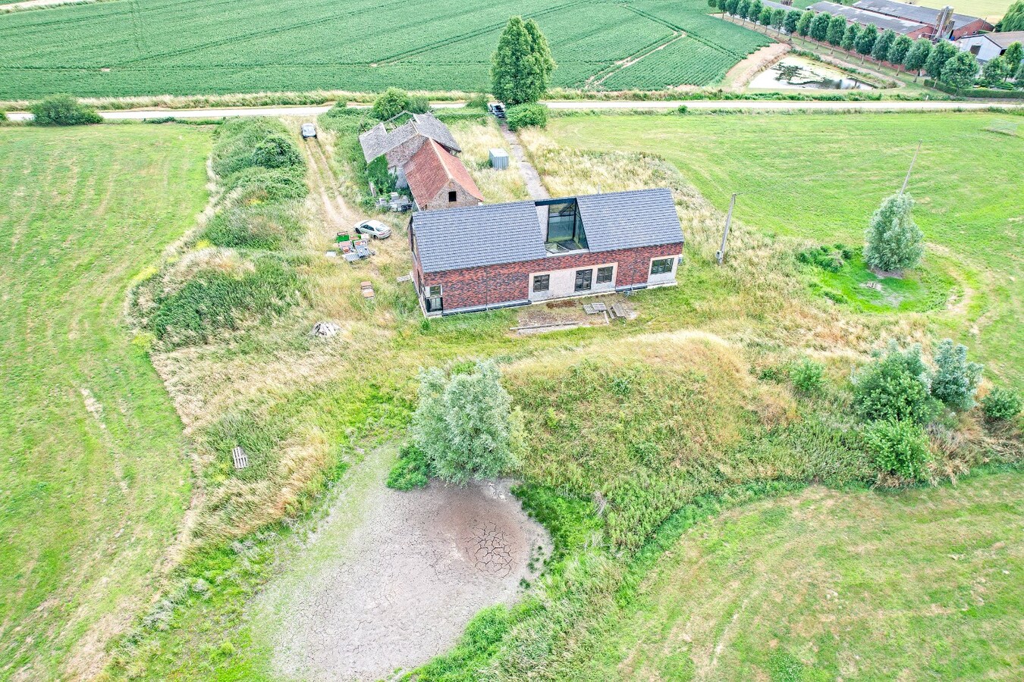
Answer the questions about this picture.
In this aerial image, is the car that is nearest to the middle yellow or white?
white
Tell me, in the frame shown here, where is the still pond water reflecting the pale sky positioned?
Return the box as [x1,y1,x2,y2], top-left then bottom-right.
[750,61,883,91]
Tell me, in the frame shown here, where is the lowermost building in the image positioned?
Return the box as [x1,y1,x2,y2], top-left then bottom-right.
[413,184,688,317]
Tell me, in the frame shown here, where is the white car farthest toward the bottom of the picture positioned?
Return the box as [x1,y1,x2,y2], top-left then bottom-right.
[355,217,396,239]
